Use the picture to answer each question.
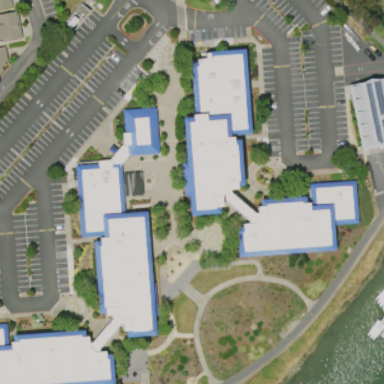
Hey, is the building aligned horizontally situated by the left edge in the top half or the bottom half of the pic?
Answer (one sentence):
You can find the building aligned horizontally situated by the left edge in the bottom half.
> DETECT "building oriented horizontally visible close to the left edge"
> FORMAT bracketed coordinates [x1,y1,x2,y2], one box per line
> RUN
[0,330,116,384]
